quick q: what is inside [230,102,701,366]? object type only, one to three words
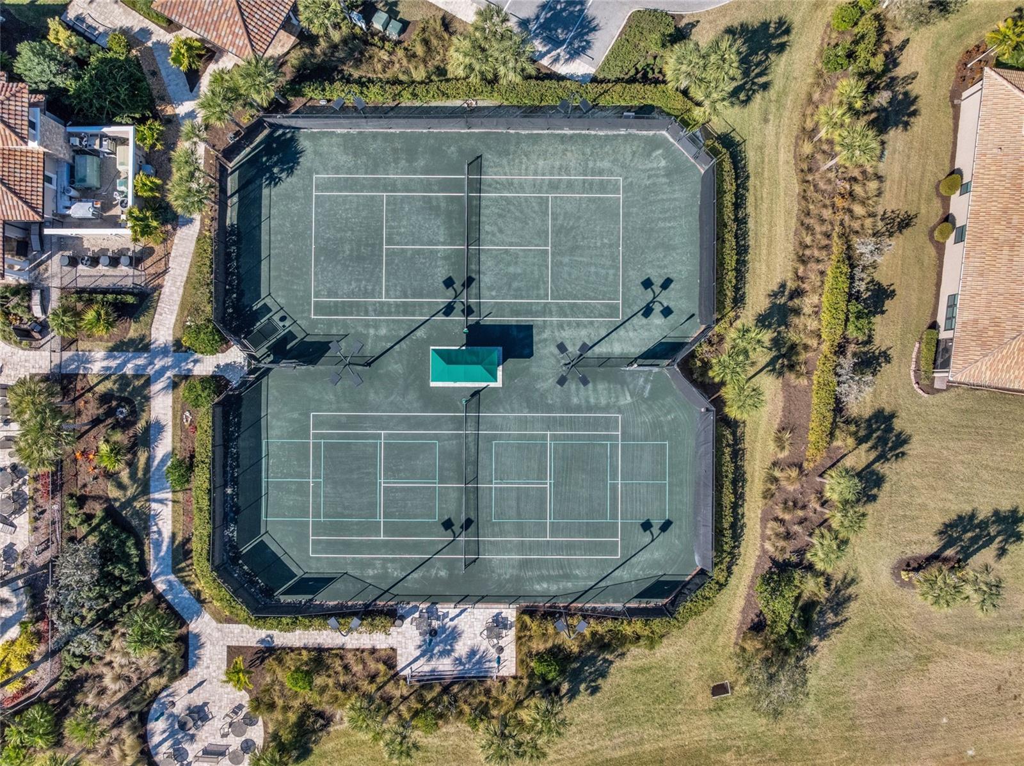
tennis court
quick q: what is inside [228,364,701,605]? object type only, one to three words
tennis court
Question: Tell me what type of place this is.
sports ground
